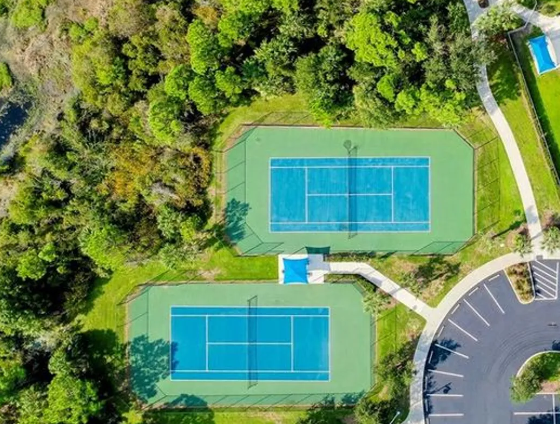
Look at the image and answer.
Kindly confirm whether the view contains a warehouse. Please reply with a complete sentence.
No, there appears to be no warehouse in this shot.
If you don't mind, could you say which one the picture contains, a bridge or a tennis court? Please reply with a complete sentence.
It is a tennis court that can be seen here.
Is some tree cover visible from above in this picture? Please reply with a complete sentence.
Yes, there is tree cover in the image.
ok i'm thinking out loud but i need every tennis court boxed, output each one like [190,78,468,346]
[226,127,473,255]
[129,283,372,407]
